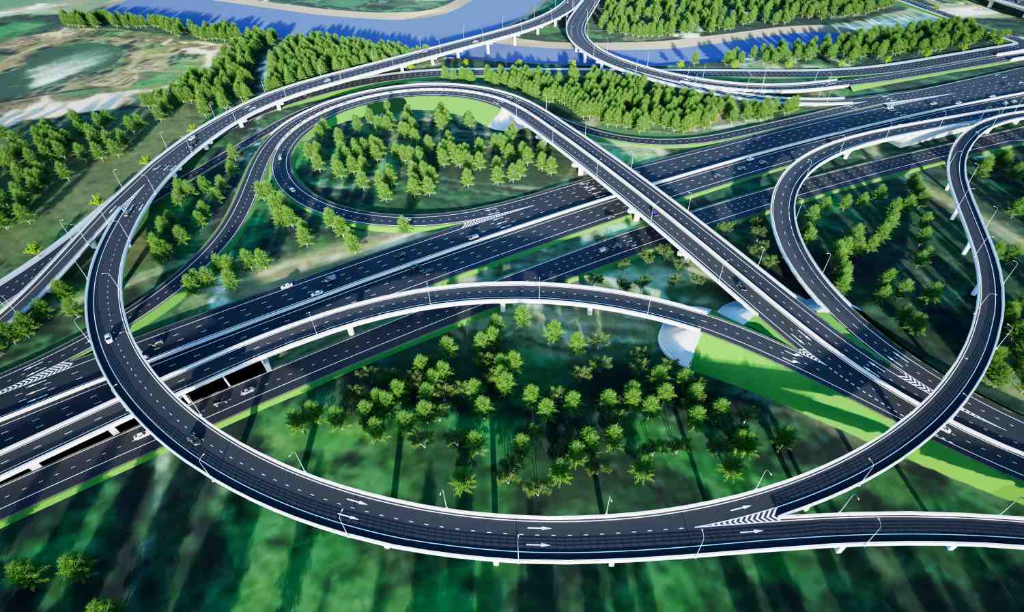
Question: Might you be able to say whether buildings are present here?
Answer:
No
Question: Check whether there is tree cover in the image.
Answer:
Yes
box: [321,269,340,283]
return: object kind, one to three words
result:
vehicle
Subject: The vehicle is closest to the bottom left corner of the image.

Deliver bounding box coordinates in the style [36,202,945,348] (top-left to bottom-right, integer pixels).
[130,428,149,442]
